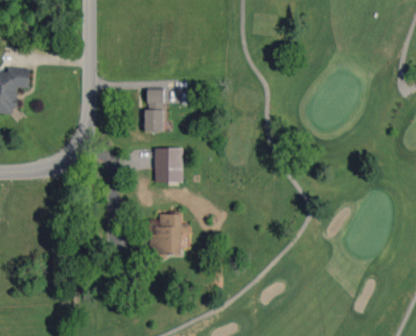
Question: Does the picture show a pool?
No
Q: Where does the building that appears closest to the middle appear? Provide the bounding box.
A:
[155,146,184,187]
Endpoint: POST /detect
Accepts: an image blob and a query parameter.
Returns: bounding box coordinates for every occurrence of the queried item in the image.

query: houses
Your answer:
[155,146,184,187]
[144,88,168,134]
[149,214,192,258]
[0,68,31,113]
